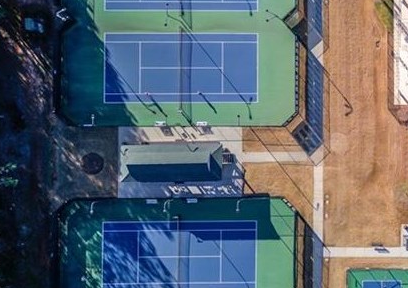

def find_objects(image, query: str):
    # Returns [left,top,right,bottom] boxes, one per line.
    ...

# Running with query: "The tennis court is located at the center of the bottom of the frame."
[57,199,295,288]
